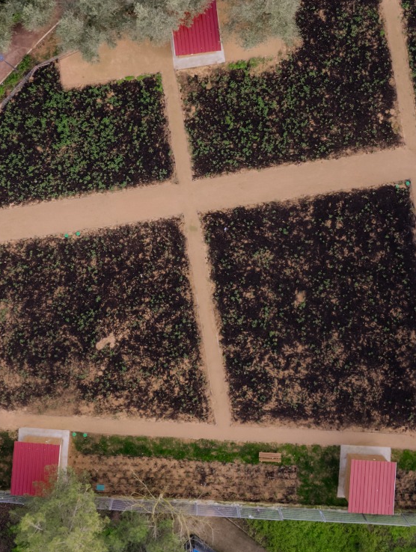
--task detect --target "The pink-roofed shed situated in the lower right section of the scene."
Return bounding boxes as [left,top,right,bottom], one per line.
[340,448,399,522]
